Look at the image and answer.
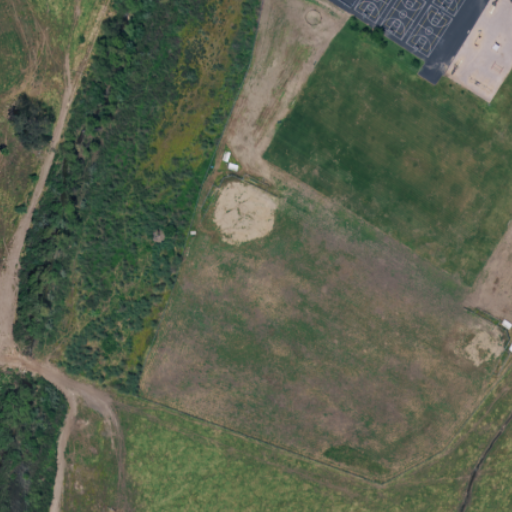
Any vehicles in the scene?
No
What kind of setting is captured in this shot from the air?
sports ground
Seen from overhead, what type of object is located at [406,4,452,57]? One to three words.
basketball court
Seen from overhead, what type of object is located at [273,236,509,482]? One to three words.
baseball field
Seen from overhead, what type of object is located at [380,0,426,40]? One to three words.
basketball court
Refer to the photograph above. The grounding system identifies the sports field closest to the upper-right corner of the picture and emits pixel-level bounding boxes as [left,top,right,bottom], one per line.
[266,15,512,287]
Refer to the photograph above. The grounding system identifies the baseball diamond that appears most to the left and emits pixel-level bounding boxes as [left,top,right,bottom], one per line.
[141,174,388,442]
